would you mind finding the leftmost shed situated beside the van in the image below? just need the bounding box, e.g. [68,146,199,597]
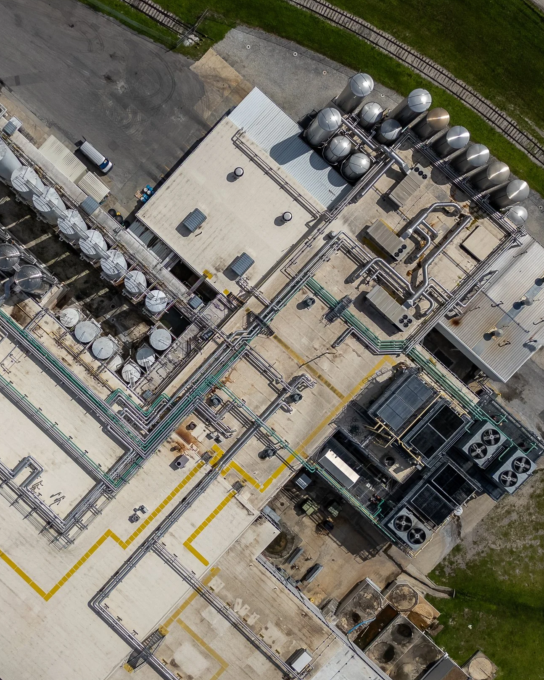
[39,135,88,182]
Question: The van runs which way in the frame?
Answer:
diagonally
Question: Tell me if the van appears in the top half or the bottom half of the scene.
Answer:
top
